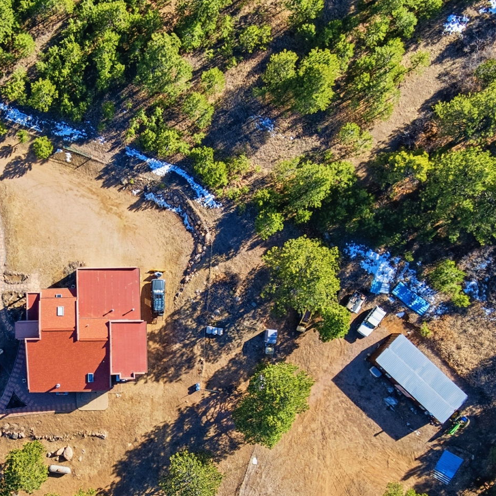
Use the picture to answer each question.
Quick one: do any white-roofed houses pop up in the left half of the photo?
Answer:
No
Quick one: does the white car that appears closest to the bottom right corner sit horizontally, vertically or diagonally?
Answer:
diagonally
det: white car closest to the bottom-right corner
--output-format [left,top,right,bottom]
[358,306,389,338]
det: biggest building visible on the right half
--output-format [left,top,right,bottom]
[370,331,468,424]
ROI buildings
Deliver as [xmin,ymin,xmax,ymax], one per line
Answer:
[16,266,146,394]
[370,331,468,424]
